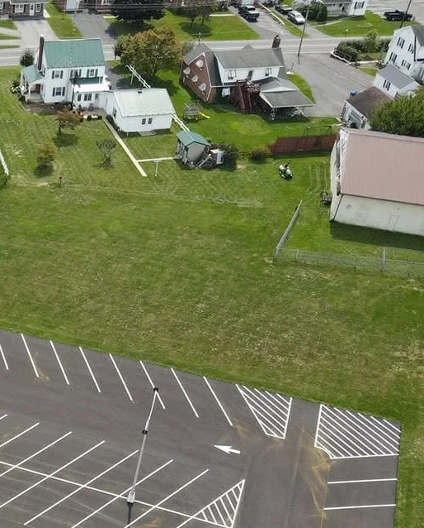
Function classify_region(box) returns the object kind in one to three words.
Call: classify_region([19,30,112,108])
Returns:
house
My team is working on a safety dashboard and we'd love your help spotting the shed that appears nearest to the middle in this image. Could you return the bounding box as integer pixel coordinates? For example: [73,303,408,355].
[173,128,211,164]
